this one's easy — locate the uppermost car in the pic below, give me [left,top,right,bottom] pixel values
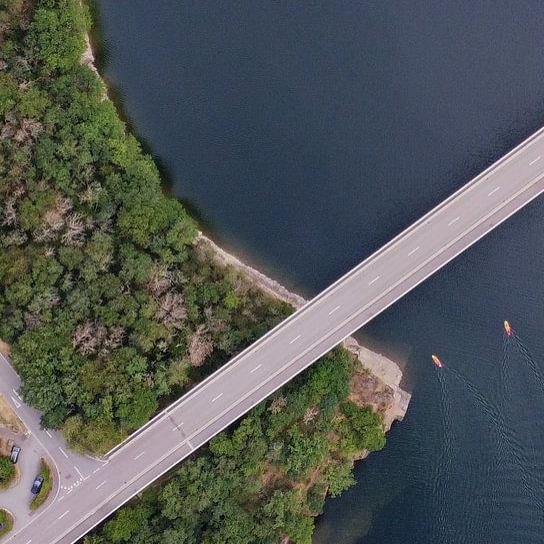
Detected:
[10,445,22,463]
